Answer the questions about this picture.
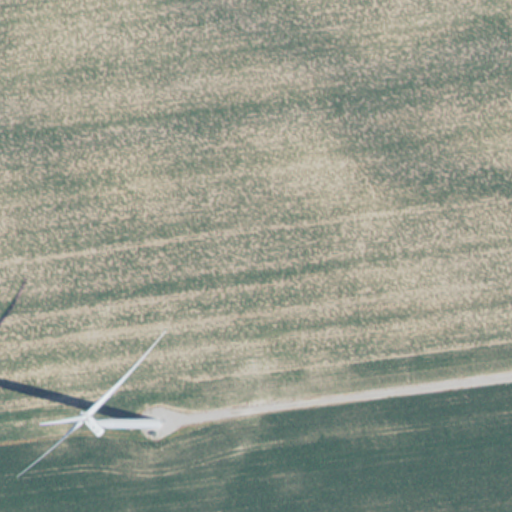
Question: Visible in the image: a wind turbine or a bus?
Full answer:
I can see a wind turbine in this picture.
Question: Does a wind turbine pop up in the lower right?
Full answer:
No, in the lower right there is no wind turbine.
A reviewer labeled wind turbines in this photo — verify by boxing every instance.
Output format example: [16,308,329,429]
[18,330,165,477]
